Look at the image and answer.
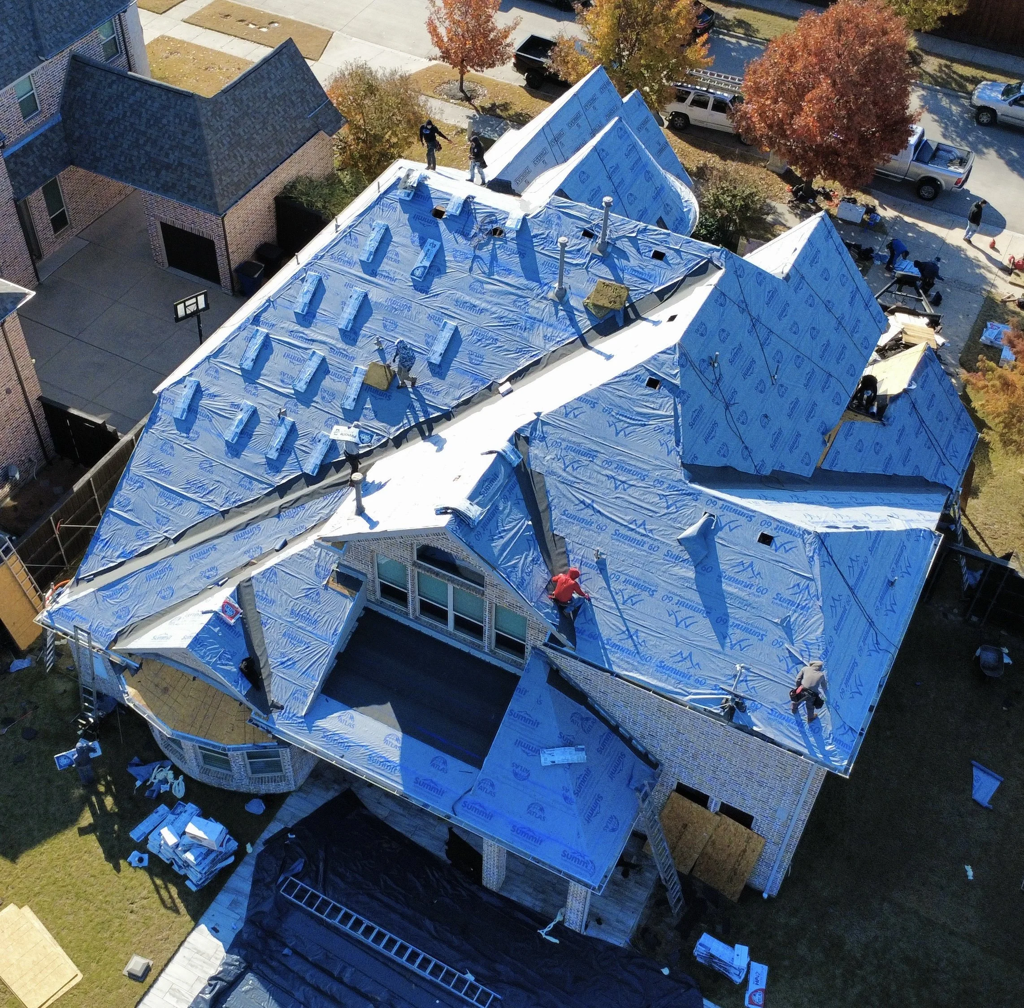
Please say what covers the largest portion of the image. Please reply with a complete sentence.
The scene is dominated by buildings.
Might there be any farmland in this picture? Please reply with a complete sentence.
No, no farmland is visible.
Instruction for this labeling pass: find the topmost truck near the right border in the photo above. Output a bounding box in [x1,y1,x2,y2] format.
[962,79,1024,128]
